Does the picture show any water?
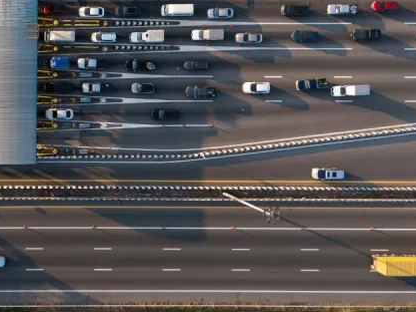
No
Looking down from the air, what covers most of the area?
paved ground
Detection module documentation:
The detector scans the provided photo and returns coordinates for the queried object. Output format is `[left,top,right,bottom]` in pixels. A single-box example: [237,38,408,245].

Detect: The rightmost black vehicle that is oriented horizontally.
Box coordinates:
[350,27,382,41]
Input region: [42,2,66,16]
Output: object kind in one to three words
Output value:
vehicle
